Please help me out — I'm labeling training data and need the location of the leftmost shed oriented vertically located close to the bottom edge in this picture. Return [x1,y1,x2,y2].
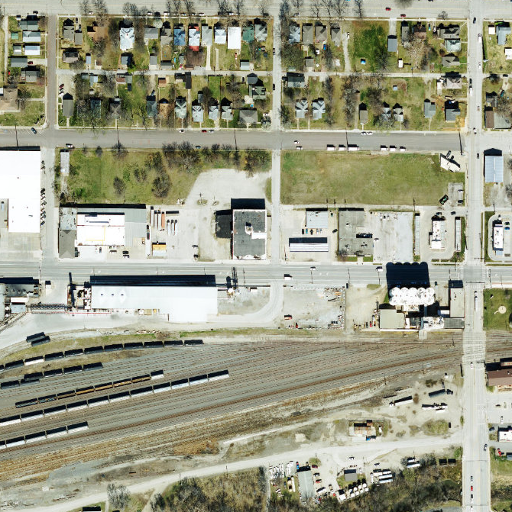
[298,471,314,502]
